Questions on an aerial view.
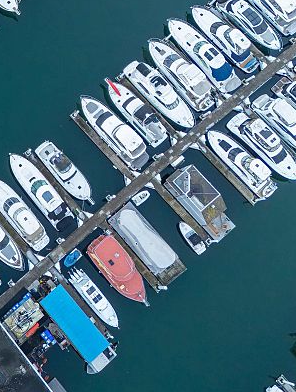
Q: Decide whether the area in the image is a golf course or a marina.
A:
marina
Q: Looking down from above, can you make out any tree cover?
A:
No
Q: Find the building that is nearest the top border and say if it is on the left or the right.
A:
right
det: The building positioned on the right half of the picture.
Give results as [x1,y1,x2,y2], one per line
[162,163,236,243]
